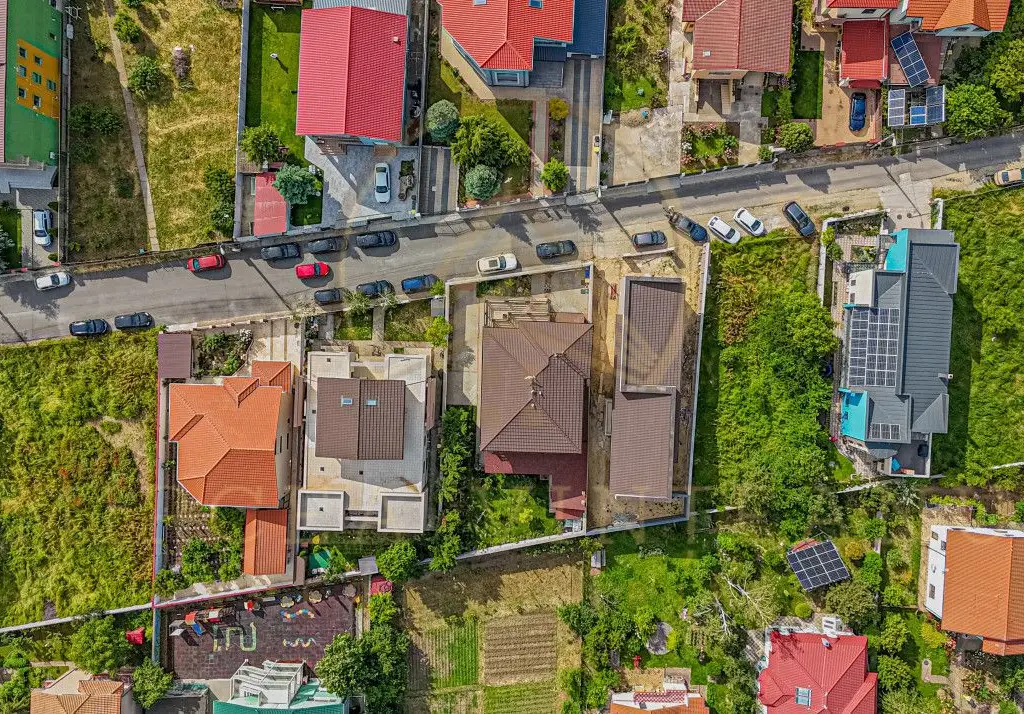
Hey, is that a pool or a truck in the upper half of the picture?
truck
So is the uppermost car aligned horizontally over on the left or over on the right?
right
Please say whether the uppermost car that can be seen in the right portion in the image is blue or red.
blue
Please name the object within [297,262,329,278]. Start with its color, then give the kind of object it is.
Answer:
red car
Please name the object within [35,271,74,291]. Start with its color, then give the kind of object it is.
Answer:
white car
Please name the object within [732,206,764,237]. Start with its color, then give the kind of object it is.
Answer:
white car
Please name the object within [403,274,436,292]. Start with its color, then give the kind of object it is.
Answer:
blue car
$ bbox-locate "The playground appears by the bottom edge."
[170,586,356,684]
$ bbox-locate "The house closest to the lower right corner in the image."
[927,524,1024,656]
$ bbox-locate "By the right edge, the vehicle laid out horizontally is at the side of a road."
[989,168,1024,188]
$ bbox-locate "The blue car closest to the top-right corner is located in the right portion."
[847,94,868,132]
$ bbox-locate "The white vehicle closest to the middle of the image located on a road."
[478,253,516,274]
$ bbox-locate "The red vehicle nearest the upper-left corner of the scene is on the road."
[189,255,225,272]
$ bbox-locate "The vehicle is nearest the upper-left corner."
[31,209,55,246]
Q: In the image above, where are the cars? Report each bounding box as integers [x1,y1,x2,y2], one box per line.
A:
[189,255,225,272]
[35,271,74,291]
[116,312,153,329]
[314,289,344,304]
[847,94,868,132]
[304,235,342,255]
[31,209,55,246]
[373,164,391,202]
[632,231,665,248]
[989,168,1024,188]
[536,239,576,259]
[706,216,739,244]
[357,279,395,298]
[357,230,396,249]
[732,206,764,237]
[297,262,329,278]
[403,274,436,292]
[478,253,516,274]
[70,318,110,336]
[263,242,301,261]
[782,200,816,238]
